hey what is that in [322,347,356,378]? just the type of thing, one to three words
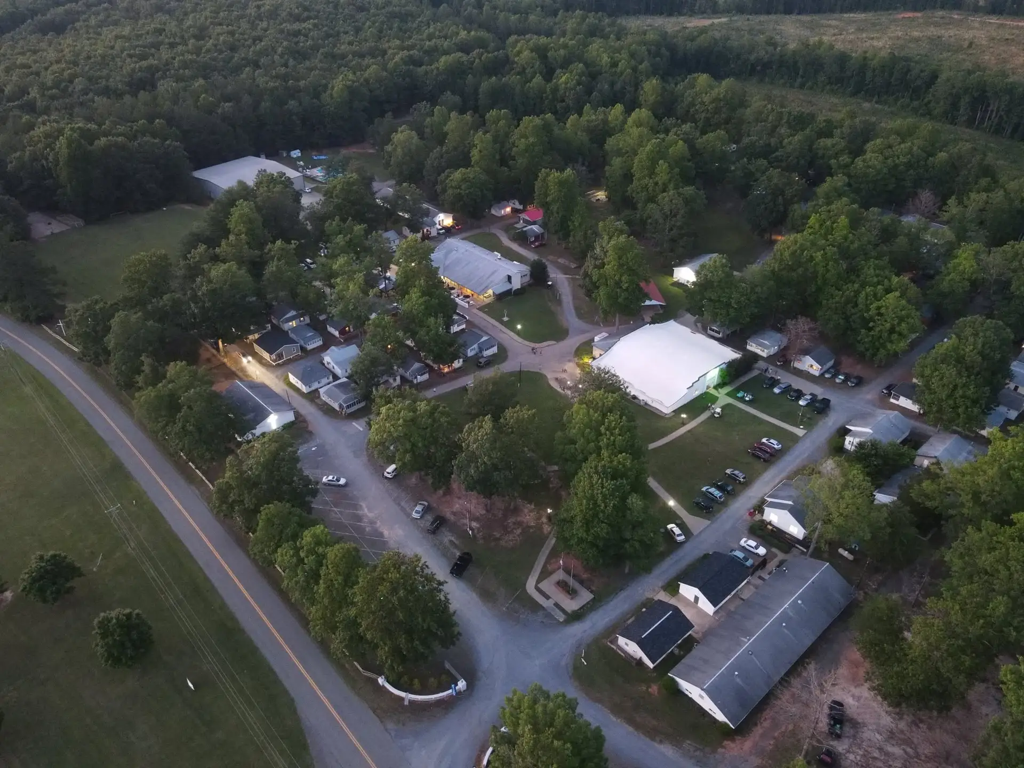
house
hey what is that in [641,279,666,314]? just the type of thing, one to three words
building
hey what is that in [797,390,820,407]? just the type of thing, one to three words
vehicle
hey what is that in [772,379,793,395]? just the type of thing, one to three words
car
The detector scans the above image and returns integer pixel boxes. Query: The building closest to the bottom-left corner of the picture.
[225,376,296,433]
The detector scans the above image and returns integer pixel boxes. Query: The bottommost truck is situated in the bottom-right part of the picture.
[814,738,842,768]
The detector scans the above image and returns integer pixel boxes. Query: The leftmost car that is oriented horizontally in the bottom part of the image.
[321,475,348,487]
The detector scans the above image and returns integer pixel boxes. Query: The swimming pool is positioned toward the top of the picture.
[302,165,331,183]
